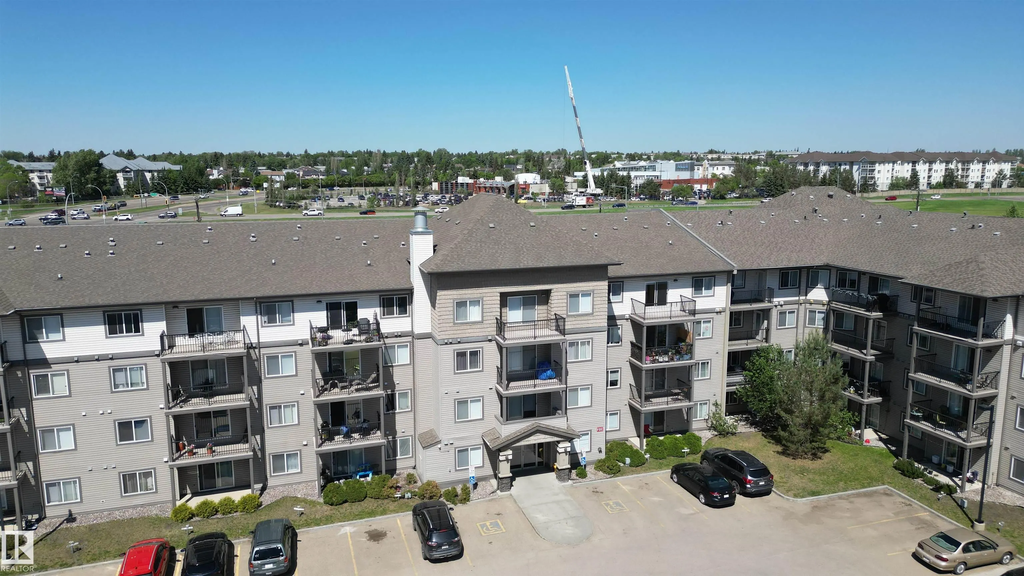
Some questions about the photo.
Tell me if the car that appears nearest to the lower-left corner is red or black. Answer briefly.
red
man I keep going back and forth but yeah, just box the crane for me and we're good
[564,66,599,195]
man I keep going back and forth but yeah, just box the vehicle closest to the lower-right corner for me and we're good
[916,527,1023,576]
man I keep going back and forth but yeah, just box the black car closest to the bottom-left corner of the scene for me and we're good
[180,532,233,576]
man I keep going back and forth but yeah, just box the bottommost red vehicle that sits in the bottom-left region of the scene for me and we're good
[117,538,172,576]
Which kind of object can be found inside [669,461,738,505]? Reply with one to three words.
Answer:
car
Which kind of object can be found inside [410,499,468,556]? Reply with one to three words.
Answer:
car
